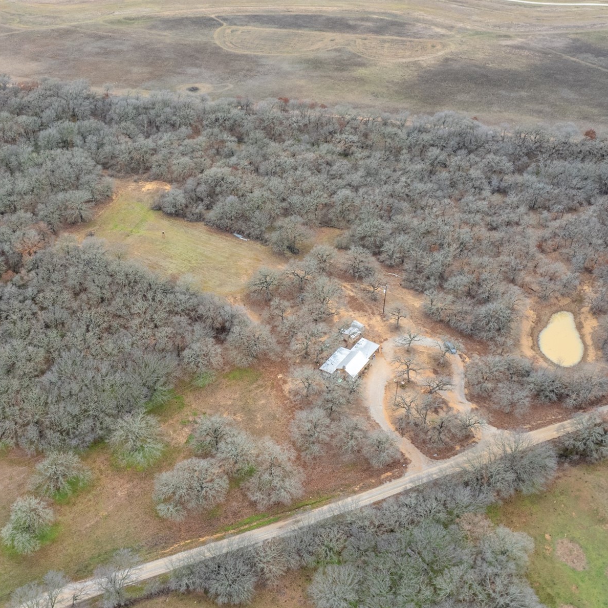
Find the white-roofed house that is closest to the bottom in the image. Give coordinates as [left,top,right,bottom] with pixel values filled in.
[319,338,380,385]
